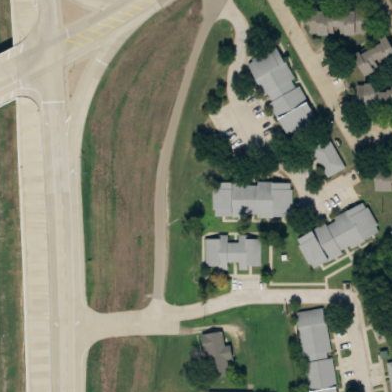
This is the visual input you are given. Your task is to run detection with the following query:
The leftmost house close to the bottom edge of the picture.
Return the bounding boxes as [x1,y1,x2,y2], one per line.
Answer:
[202,333,233,376]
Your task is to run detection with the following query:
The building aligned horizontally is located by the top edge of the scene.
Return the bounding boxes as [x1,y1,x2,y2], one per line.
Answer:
[306,11,364,36]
